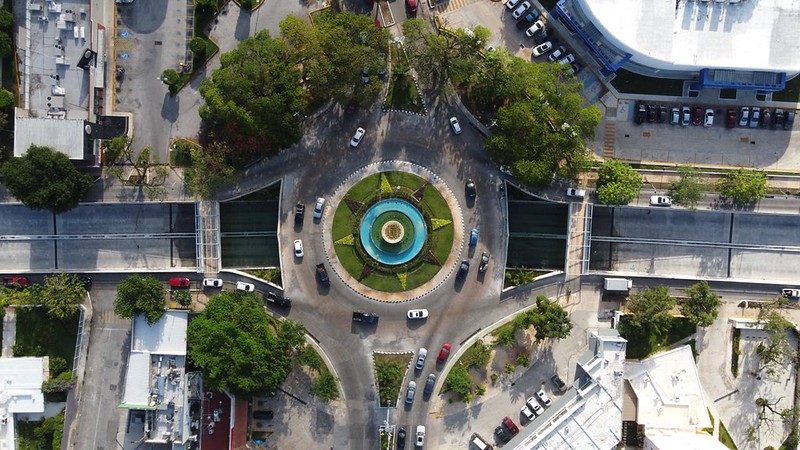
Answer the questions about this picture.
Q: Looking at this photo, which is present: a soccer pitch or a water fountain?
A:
water fountain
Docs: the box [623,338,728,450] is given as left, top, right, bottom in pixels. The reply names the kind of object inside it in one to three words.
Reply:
building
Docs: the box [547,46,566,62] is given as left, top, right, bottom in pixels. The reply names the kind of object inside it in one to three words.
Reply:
car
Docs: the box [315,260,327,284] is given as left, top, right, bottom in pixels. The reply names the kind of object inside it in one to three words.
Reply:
vehicle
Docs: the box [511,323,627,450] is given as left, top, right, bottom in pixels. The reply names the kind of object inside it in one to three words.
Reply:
building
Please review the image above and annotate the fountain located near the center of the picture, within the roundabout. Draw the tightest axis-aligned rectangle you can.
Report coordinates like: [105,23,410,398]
[359,198,427,266]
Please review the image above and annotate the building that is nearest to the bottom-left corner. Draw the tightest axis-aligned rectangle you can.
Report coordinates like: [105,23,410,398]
[0,354,69,450]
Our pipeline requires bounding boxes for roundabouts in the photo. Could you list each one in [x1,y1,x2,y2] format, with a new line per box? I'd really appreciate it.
[321,159,465,304]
